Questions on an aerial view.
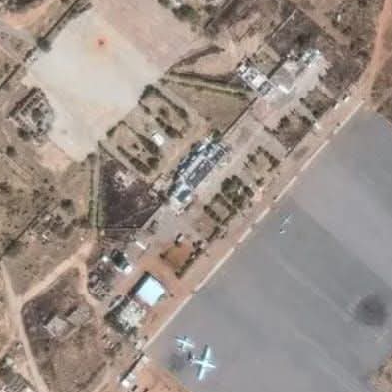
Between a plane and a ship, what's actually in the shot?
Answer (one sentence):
The one in the frame is a plane.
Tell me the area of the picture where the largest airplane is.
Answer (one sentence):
You can find the largest airplane in the bottom area of the picture.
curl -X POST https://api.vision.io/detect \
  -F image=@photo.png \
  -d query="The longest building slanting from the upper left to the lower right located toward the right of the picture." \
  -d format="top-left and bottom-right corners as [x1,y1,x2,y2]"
[241,63,272,96]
